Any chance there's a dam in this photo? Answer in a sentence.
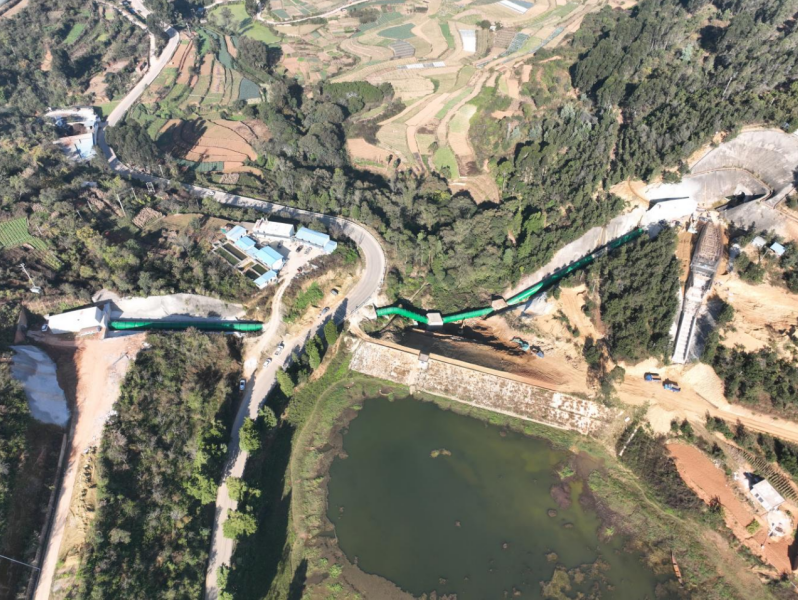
Yes, the picture does show a dam.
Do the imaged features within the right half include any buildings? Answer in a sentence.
Yes, the scene does show a building within the right half.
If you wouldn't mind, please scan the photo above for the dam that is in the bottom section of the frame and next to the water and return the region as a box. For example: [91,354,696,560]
[348,329,630,441]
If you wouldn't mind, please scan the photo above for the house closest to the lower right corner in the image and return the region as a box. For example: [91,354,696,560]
[752,480,791,510]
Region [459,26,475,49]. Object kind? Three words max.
greenhouse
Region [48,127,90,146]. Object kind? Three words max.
house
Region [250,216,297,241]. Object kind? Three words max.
house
